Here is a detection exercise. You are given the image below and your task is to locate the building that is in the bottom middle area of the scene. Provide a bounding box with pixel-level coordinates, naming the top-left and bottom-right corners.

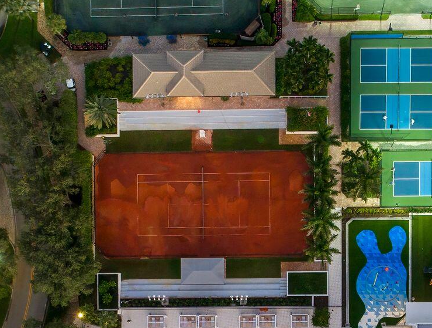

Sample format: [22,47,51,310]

[181,258,225,284]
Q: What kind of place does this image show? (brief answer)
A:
sports ground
